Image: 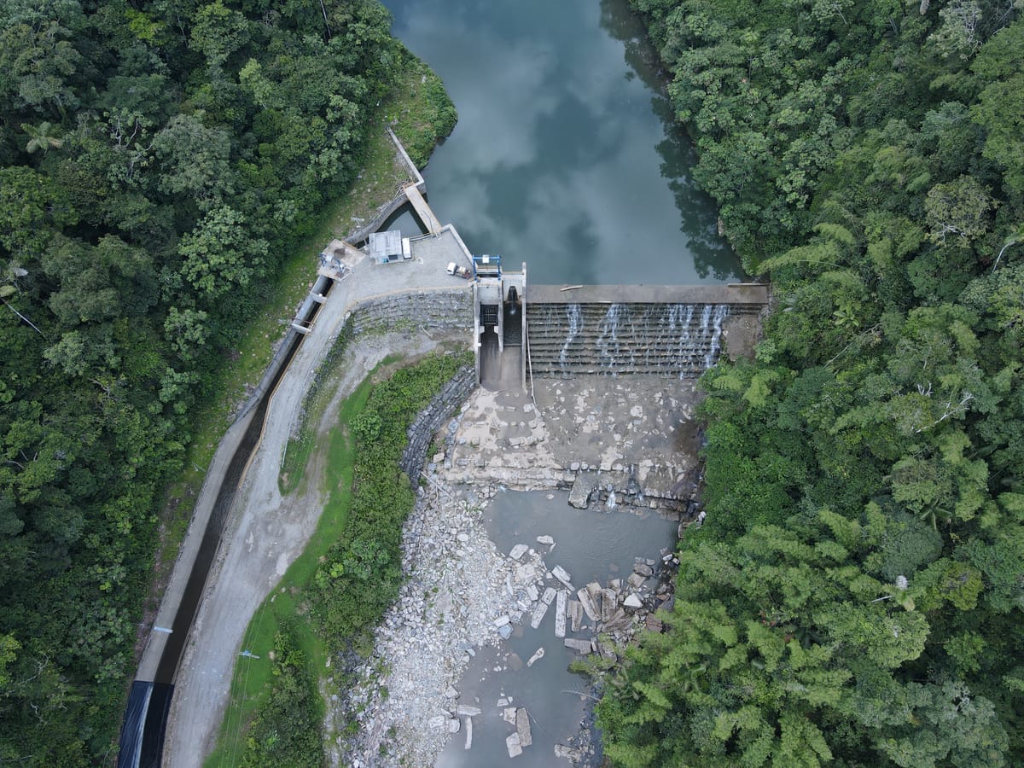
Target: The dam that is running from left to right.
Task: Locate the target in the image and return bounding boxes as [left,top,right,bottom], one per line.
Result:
[526,284,771,375]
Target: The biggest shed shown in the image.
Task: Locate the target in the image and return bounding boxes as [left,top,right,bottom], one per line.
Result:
[369,229,405,269]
